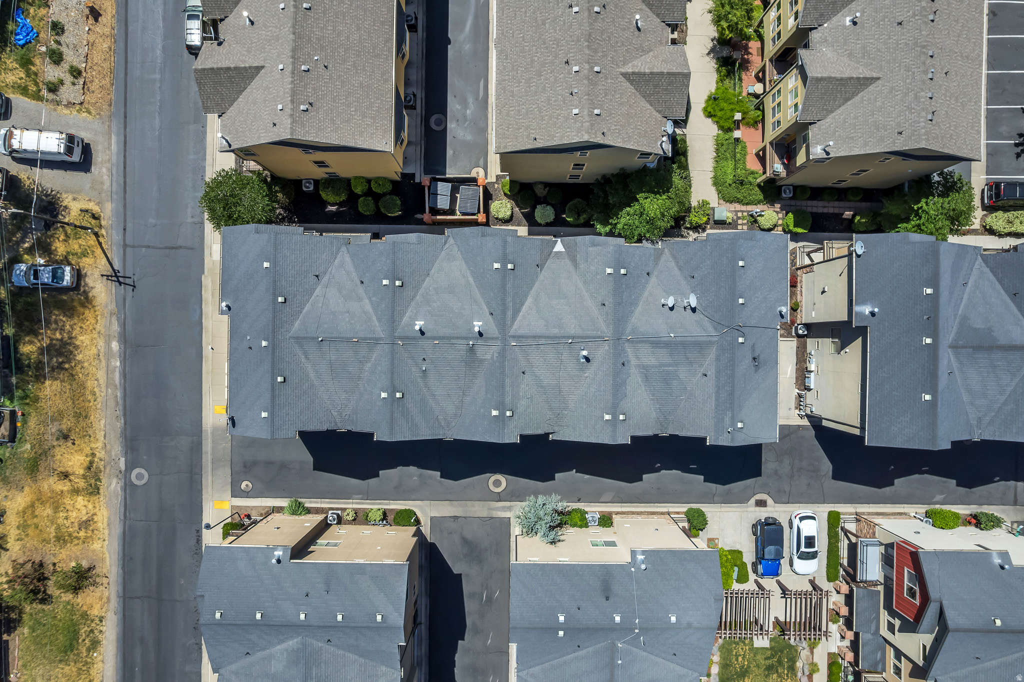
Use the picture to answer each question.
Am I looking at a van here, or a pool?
van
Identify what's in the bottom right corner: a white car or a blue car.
white car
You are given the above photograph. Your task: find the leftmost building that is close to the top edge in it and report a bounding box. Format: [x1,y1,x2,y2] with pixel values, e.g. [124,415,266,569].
[194,0,410,180]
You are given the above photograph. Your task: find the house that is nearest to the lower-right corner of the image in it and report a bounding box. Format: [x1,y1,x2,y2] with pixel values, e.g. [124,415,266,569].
[840,514,1024,682]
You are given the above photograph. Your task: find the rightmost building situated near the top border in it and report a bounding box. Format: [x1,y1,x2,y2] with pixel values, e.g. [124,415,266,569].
[750,0,984,188]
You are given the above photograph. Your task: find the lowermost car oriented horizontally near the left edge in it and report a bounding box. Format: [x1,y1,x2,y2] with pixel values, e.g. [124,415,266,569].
[15,258,80,289]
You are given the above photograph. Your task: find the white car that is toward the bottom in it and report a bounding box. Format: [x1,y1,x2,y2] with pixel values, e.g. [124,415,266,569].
[789,512,823,576]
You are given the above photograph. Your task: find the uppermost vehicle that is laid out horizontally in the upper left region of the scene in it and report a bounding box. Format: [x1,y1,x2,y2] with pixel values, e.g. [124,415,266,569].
[4,126,86,165]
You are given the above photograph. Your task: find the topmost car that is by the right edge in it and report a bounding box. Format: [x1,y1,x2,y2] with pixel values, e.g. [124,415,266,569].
[983,180,1024,209]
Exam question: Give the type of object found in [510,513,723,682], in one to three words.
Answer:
house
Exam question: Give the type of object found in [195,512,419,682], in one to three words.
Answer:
house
